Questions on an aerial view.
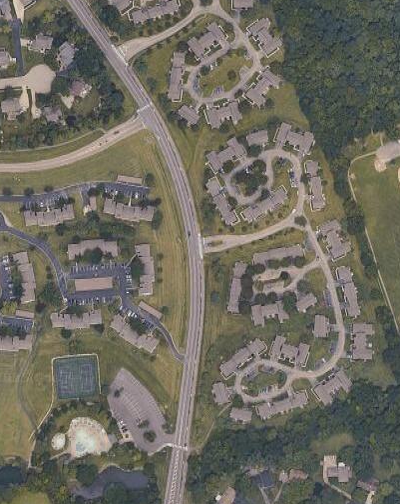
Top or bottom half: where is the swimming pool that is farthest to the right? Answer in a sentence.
The swimming pool that is farthest to the right sits in the bottom half of the picture.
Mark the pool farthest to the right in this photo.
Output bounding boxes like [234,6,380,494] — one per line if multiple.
[68,416,111,457]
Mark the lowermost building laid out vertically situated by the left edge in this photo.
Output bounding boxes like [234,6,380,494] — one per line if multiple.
[12,250,35,305]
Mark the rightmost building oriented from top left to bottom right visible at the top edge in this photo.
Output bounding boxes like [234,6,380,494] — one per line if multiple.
[242,15,288,62]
